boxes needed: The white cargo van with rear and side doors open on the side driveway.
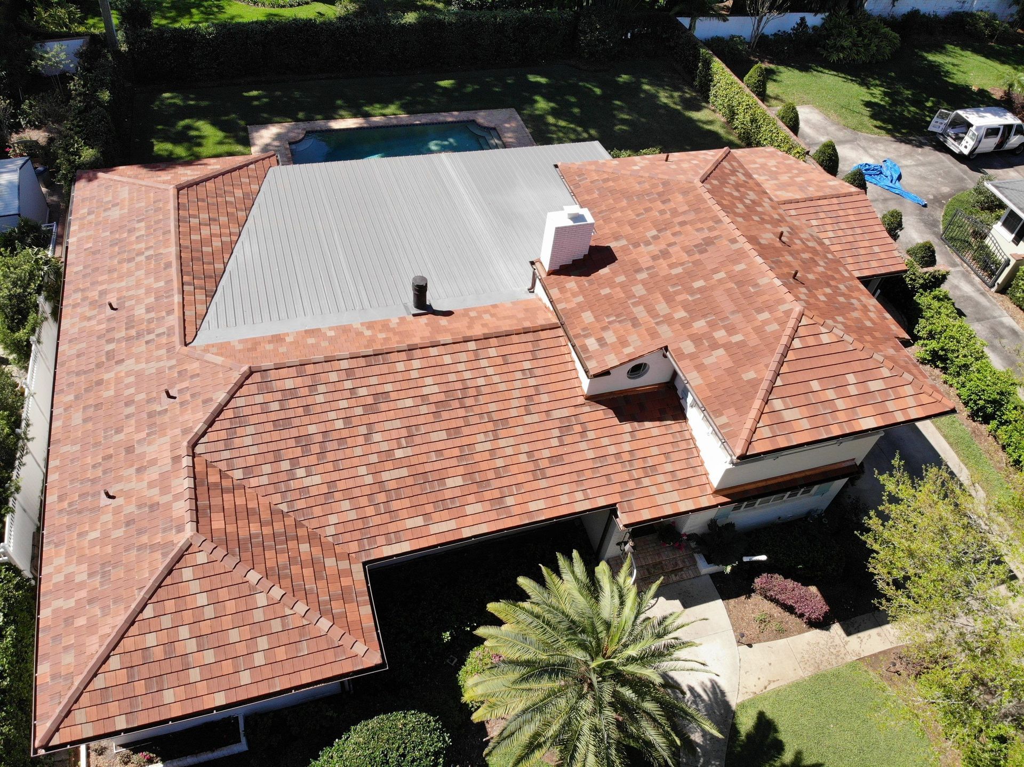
[924,108,1024,160]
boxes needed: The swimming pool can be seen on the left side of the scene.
[289,117,505,165]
